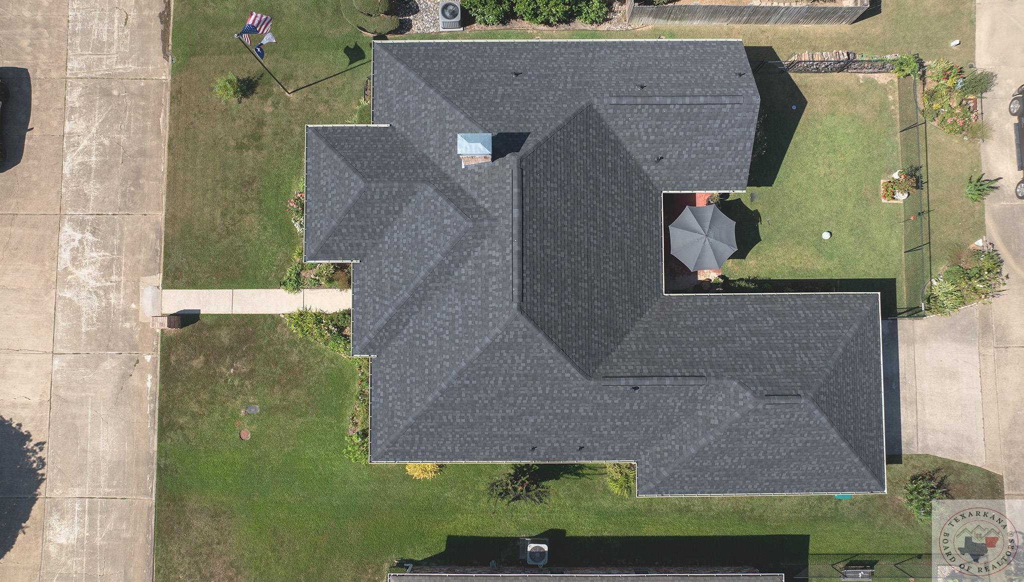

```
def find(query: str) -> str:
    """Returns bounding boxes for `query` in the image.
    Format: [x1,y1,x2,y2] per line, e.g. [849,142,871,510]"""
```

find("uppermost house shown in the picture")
[303,40,887,496]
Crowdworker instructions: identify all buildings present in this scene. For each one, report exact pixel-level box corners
[303,40,887,496]
[388,559,785,582]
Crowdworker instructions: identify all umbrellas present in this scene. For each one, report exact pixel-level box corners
[669,204,737,272]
